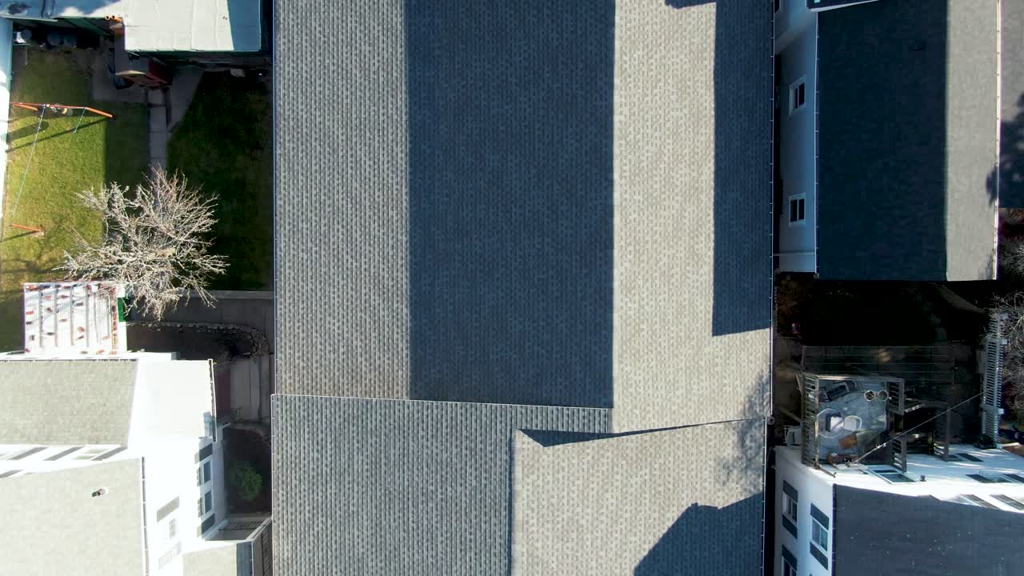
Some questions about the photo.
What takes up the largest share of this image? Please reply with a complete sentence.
What you mostly see from above here is buildings.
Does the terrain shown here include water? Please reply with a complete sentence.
No, the picture contains no water.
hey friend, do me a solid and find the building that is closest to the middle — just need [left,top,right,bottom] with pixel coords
[270,0,775,576]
